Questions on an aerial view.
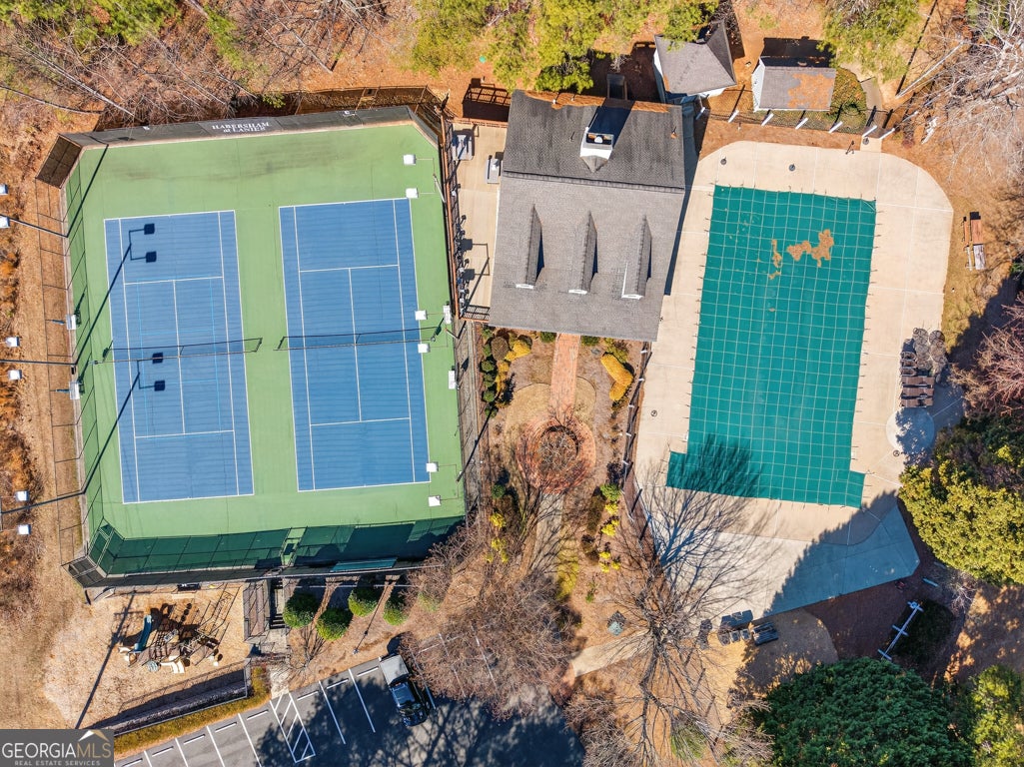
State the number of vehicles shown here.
1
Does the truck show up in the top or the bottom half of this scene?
bottom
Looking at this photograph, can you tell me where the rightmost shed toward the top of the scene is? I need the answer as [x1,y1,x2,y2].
[749,57,838,114]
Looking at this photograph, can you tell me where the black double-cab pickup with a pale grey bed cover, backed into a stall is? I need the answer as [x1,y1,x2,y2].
[378,649,427,725]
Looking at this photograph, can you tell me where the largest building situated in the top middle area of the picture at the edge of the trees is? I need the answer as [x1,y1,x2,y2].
[490,63,682,343]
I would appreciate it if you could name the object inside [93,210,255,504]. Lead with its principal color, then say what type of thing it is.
blue tennis court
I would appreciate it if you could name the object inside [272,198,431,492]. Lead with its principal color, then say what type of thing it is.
blue tennis court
